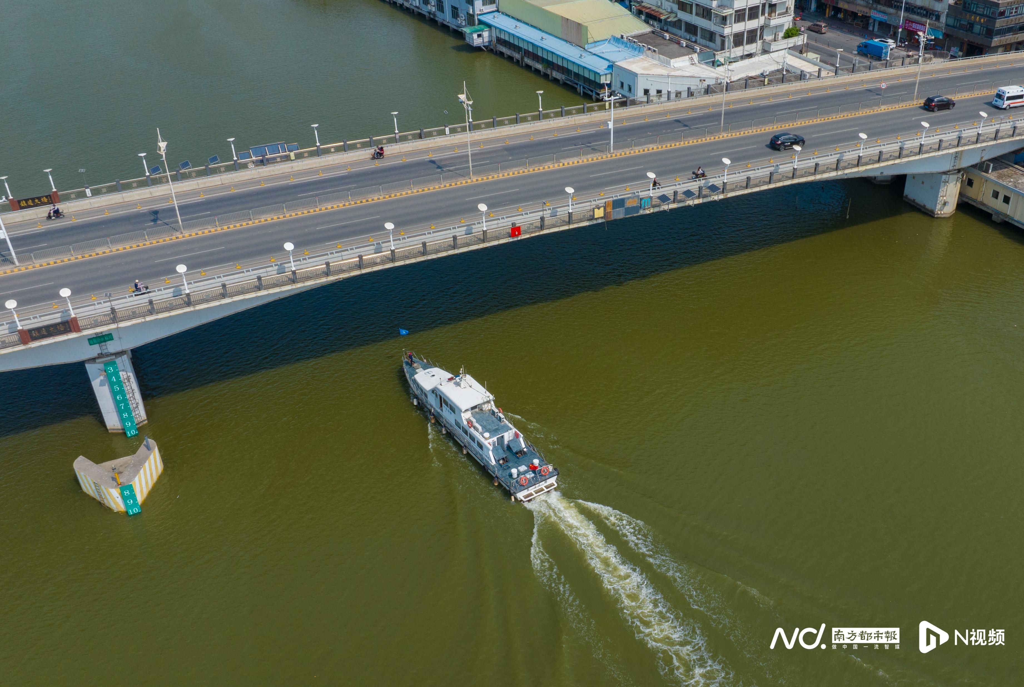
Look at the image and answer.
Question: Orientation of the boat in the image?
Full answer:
The boat is laid out diagonally.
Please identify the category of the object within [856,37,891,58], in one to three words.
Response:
truck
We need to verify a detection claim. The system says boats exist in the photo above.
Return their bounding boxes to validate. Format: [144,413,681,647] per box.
[397,327,561,507]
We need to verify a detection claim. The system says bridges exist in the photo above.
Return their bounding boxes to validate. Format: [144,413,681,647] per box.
[0,50,1024,433]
